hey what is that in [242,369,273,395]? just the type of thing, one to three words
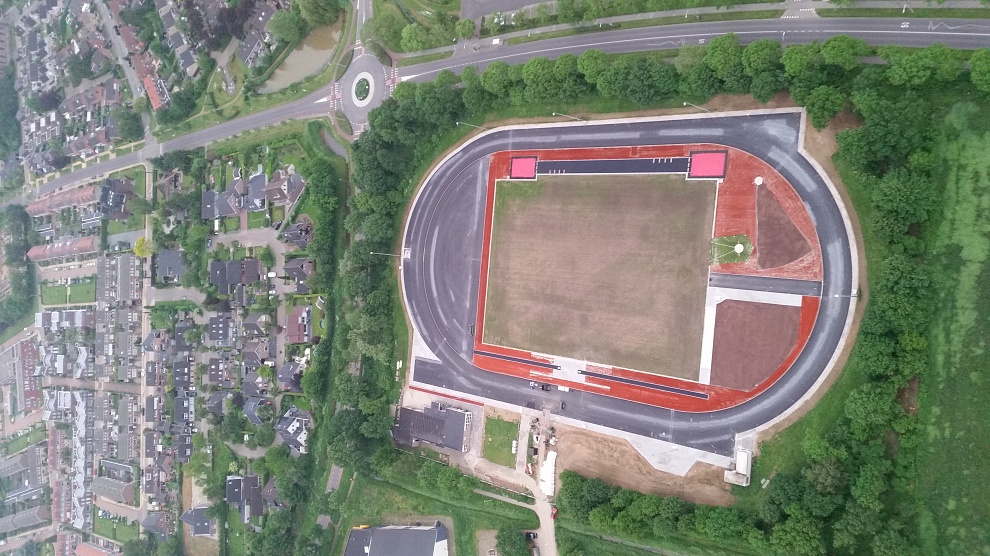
house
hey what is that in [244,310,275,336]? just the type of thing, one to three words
house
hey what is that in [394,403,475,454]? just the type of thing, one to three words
building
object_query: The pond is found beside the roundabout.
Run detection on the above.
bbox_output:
[254,8,344,93]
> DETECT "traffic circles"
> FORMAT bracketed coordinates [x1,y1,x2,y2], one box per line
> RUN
[340,47,387,129]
